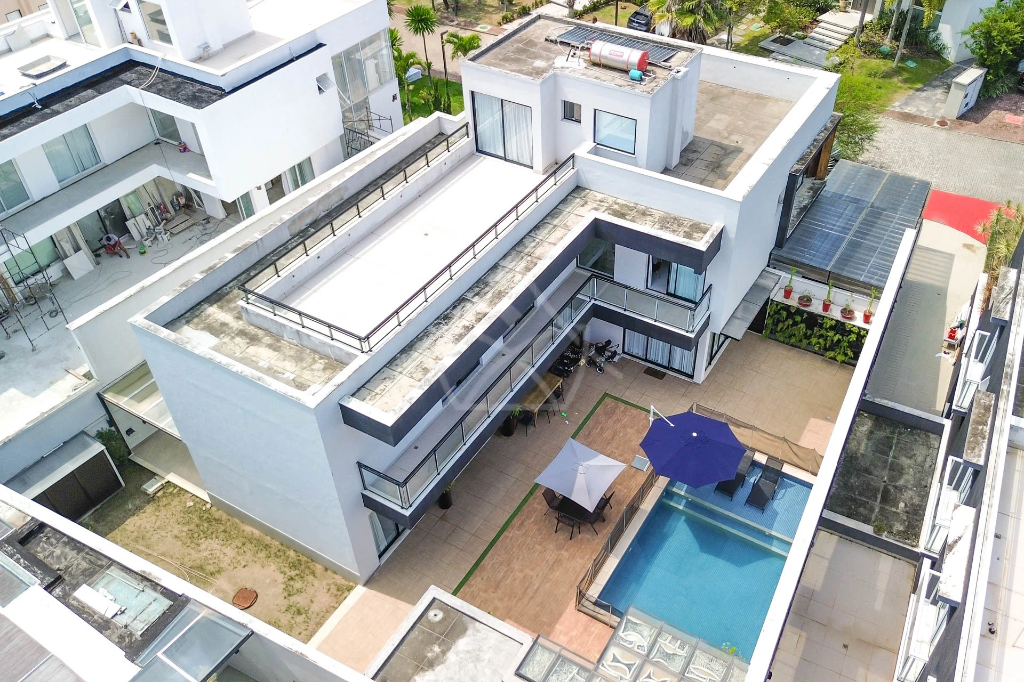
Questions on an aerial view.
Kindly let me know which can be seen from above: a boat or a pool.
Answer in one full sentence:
It is a pool that can be seen here.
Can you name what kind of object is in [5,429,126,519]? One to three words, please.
shed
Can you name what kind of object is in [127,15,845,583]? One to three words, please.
house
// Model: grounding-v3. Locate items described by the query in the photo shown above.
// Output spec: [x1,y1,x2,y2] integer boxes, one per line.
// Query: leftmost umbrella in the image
[535,439,625,513]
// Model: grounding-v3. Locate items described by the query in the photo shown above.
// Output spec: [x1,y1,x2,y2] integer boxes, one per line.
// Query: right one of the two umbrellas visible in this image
[631,400,747,489]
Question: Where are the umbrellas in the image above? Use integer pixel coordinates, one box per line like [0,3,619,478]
[631,400,747,489]
[535,439,625,513]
